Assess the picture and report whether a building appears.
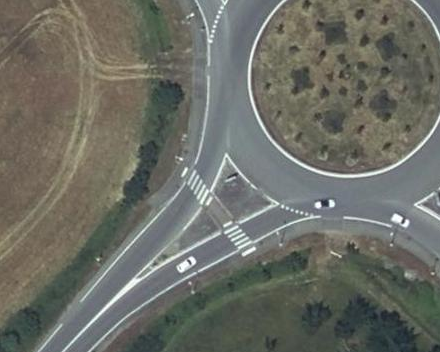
No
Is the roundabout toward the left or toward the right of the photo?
right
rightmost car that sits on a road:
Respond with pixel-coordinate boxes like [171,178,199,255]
[390,213,410,227]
